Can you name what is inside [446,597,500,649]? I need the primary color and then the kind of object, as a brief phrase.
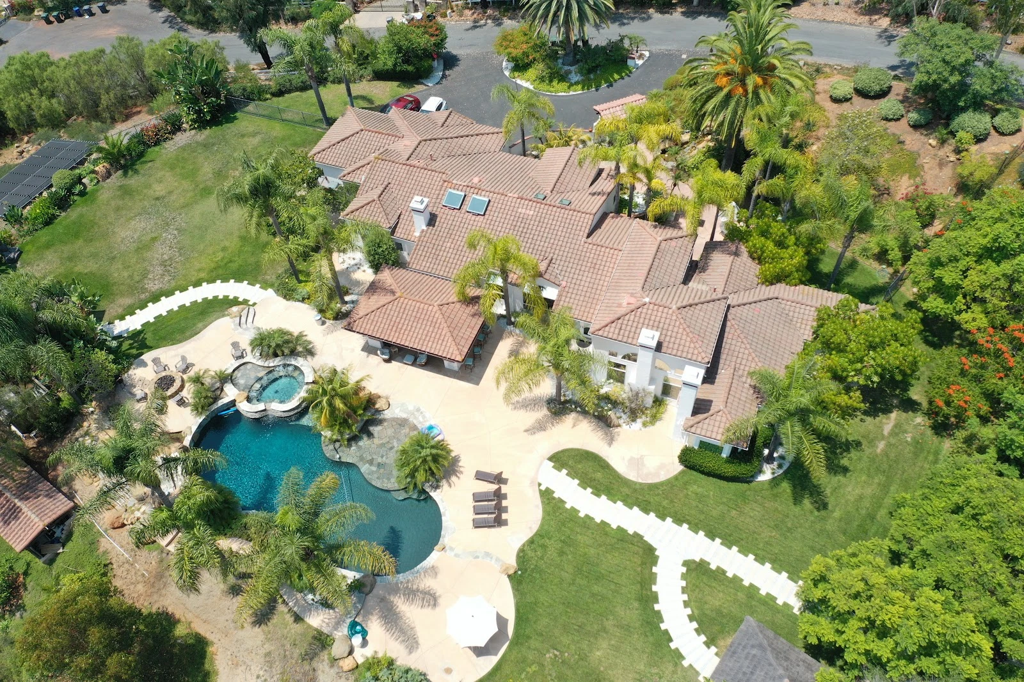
white umbrella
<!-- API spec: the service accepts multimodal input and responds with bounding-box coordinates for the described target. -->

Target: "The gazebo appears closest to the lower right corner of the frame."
[711,615,841,682]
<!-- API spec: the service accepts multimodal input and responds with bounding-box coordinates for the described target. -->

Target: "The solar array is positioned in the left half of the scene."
[0,140,90,217]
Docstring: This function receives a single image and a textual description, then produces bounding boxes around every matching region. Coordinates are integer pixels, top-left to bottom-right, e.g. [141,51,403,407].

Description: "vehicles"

[418,94,450,114]
[394,92,428,113]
